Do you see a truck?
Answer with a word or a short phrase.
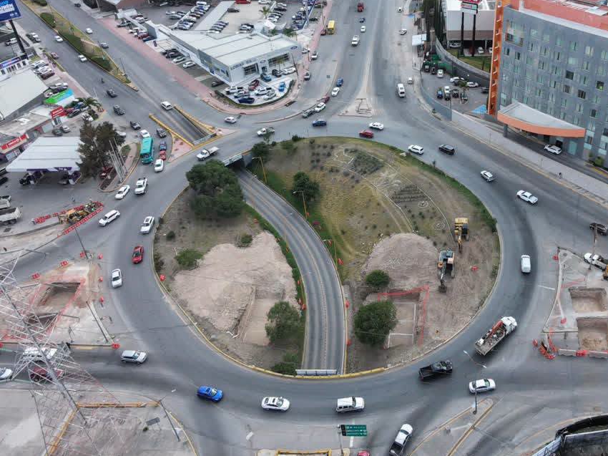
Yes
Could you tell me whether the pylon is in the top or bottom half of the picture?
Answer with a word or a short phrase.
bottom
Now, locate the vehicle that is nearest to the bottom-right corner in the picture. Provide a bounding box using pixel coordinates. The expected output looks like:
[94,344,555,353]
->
[468,379,496,393]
